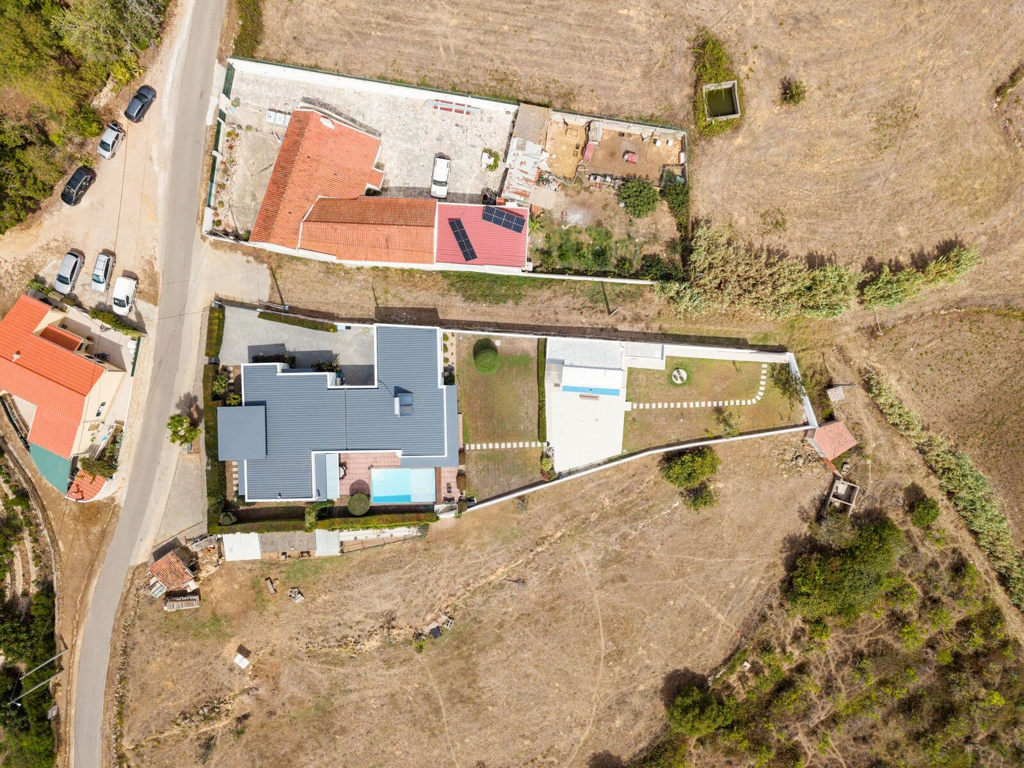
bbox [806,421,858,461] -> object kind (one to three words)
shed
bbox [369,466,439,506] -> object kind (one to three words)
swimming pool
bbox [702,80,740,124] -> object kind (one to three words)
water tank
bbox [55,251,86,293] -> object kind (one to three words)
car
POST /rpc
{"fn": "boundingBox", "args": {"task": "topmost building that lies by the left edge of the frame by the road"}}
[0,293,129,461]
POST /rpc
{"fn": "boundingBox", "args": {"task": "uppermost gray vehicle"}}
[124,84,157,124]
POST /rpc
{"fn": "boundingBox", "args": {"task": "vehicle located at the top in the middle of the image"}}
[430,153,451,199]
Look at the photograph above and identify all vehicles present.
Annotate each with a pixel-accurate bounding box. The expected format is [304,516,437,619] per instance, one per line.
[99,118,127,160]
[430,153,451,199]
[111,275,138,316]
[124,84,157,124]
[55,251,86,293]
[61,165,97,206]
[90,251,116,293]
